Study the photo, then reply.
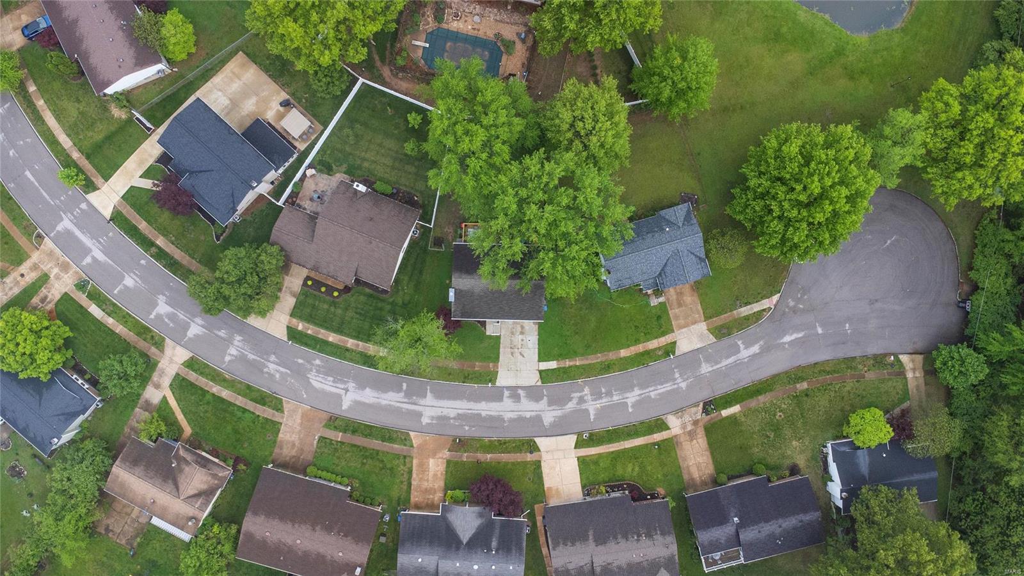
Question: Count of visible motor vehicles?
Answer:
one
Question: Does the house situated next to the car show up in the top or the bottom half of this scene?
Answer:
top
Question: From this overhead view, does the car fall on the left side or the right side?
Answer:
left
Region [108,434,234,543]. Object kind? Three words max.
house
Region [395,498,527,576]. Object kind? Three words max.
house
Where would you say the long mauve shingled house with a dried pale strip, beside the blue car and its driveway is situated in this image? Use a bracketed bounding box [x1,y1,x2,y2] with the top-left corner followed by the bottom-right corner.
[40,0,169,97]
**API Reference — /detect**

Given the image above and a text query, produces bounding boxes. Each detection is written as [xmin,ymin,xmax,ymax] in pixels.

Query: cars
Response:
[18,14,50,36]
